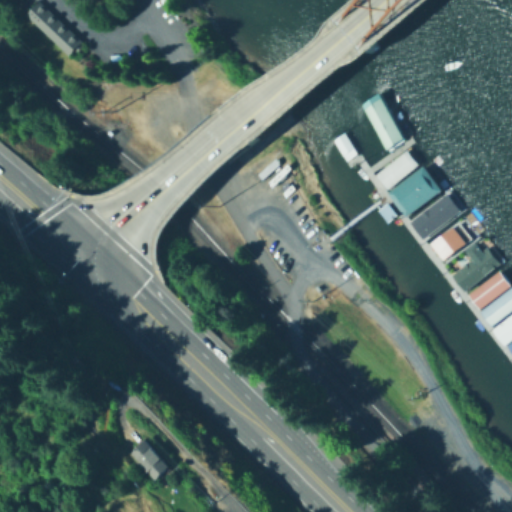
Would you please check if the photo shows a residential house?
Yes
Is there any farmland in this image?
No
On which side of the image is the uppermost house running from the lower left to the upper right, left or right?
right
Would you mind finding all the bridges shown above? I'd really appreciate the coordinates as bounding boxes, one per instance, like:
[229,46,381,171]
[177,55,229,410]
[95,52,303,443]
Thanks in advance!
[62,0,429,290]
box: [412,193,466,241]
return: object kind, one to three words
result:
house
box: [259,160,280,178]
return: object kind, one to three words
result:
camper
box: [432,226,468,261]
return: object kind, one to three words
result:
house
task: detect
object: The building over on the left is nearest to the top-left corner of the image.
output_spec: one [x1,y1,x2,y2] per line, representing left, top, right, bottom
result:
[32,0,88,58]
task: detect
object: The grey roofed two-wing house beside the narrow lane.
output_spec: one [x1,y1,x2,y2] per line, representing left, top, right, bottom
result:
[134,437,174,480]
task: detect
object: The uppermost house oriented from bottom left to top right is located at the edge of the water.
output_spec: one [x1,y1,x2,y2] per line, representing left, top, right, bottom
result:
[377,150,420,190]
